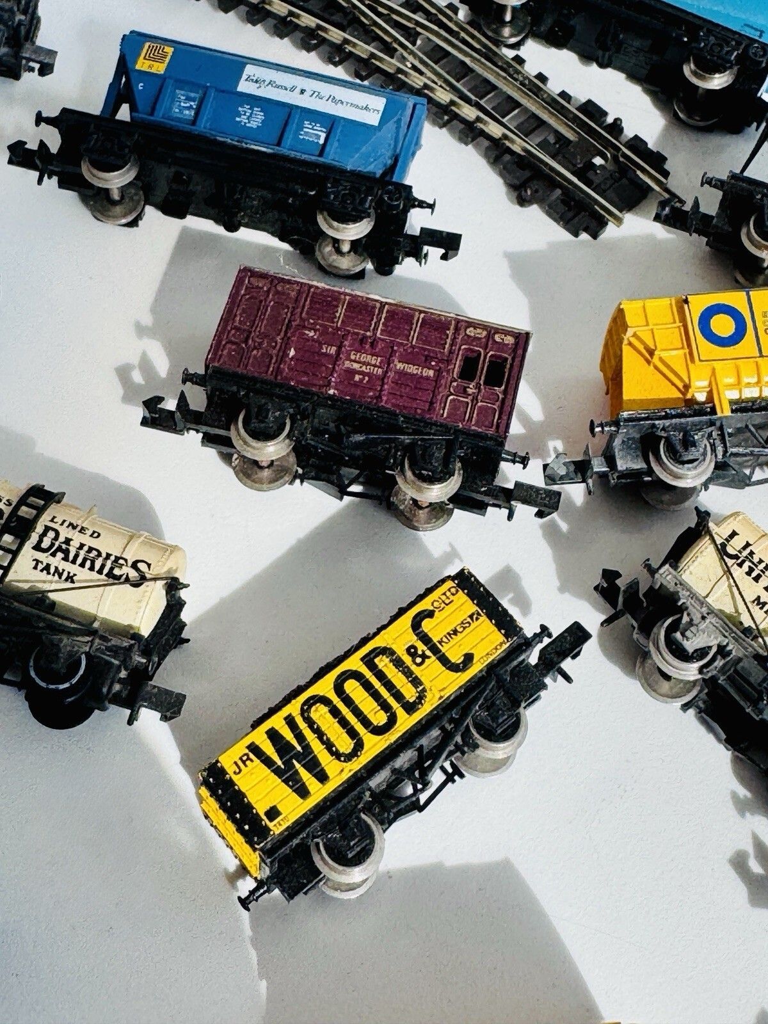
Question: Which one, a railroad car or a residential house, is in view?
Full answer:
The one in the frame is a railroad car.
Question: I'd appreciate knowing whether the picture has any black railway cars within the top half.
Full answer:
Yes, the scene does show a black railway car within the top half.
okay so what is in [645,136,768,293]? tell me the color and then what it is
black rail car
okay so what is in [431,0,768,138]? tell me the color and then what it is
black rail car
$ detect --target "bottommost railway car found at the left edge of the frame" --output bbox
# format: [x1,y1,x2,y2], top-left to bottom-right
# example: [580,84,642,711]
[0,494,196,738]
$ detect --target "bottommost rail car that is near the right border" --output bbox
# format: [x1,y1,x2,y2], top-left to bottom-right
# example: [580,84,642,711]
[588,510,768,780]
